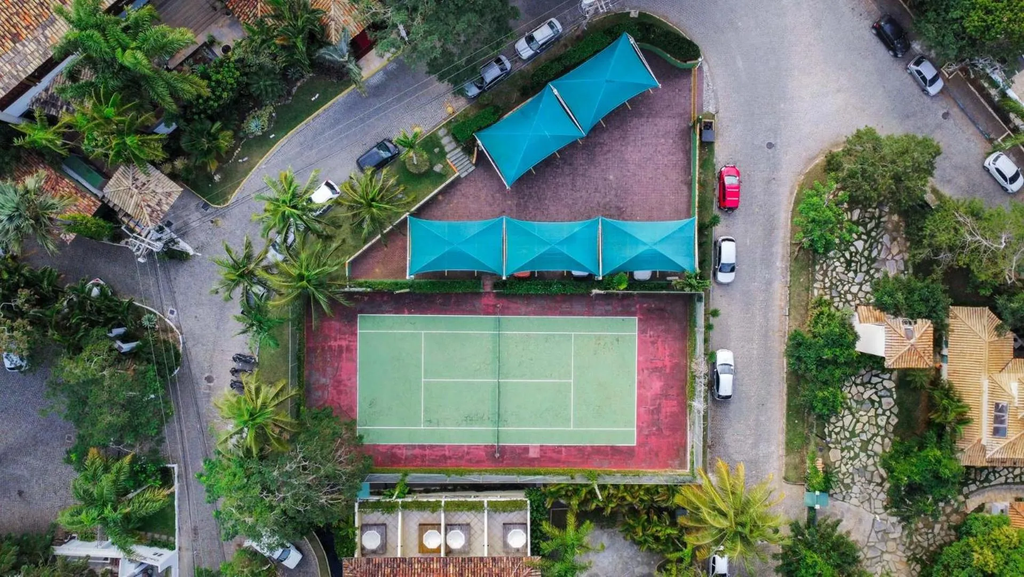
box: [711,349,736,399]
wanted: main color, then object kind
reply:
white car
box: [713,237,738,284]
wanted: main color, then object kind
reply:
white car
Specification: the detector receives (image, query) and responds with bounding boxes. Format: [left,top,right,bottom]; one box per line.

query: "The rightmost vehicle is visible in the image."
[979,149,1024,194]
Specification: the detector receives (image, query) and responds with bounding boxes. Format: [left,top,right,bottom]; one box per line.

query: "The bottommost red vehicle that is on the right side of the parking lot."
[716,165,743,212]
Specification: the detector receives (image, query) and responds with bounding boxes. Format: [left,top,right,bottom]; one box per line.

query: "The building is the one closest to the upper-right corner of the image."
[983,58,1024,113]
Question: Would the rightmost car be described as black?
No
